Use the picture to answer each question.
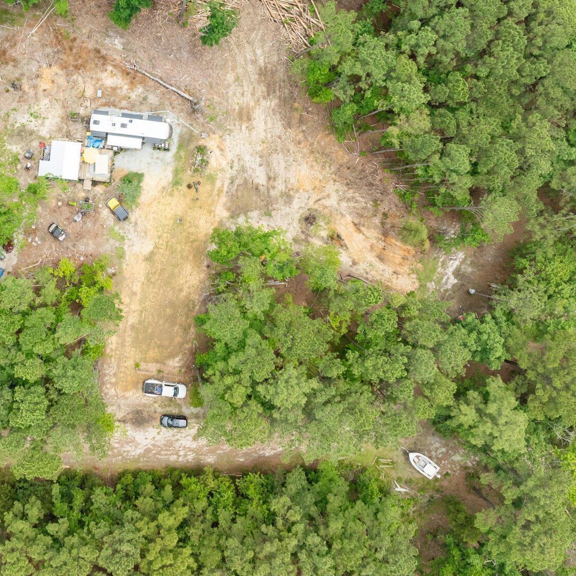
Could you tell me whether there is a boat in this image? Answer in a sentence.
Yes, there's a boat down there.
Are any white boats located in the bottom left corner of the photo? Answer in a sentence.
No, looking in the bottom left corner of the photo, there is no white boat.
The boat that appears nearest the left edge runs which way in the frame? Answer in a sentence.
In this picture, the boat that appears nearest the left edge is oriented at an angle.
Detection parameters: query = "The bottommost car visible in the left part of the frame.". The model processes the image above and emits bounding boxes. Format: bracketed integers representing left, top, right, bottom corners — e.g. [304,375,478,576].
[160,414,188,430]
